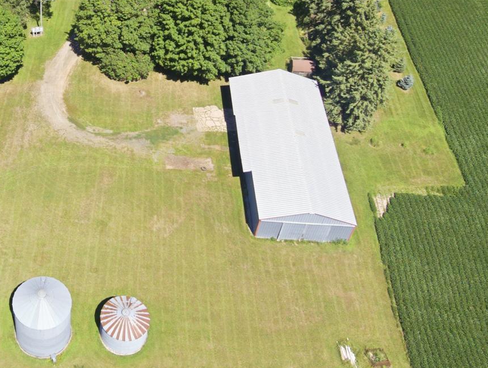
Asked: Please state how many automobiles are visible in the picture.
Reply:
none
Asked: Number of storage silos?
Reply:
2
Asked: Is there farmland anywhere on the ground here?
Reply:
Yes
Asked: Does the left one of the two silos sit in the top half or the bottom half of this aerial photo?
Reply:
bottom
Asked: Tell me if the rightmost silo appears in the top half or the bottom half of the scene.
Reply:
bottom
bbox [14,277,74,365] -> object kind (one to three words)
silo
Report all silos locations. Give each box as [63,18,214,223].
[98,296,150,356]
[14,277,74,365]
